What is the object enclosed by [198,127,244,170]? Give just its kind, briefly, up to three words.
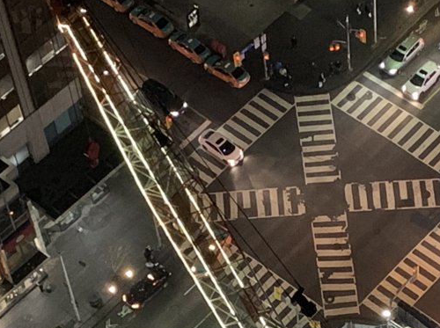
car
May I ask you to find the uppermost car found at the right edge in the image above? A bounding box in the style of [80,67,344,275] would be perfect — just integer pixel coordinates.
[380,32,426,76]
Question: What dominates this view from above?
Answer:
paved ground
